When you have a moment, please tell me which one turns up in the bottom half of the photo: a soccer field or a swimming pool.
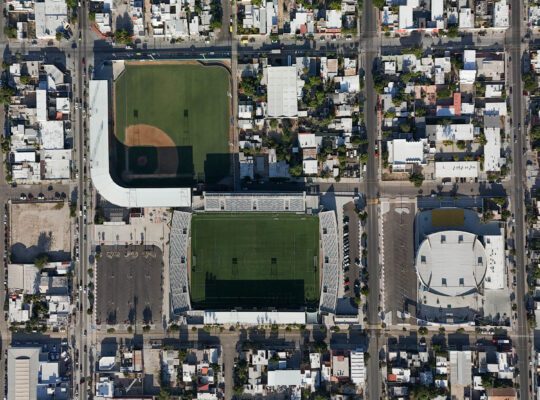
soccer field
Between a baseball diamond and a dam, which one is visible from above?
baseball diamond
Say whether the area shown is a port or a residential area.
residential area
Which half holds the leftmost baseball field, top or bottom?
top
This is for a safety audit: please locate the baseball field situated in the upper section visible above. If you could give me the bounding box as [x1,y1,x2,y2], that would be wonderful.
[112,61,232,186]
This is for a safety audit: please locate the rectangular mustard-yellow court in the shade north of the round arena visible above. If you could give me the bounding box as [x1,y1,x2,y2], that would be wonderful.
[432,210,464,226]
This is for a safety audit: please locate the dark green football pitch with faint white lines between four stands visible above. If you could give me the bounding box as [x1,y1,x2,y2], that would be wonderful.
[187,212,323,310]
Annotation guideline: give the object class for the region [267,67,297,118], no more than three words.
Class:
building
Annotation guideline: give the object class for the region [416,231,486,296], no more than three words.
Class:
stadium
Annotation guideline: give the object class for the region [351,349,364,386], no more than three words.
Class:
building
